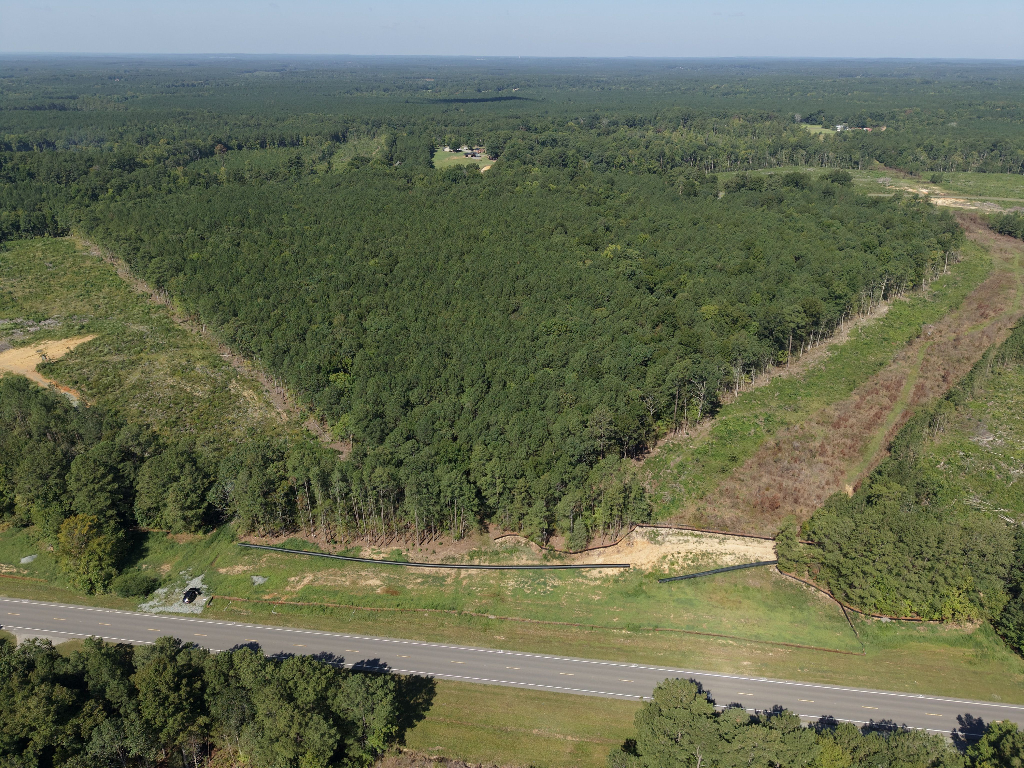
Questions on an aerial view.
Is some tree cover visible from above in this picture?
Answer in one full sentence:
Yes, the picture does contain tree cover.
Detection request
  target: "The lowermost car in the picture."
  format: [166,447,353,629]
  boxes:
[183,586,202,604]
